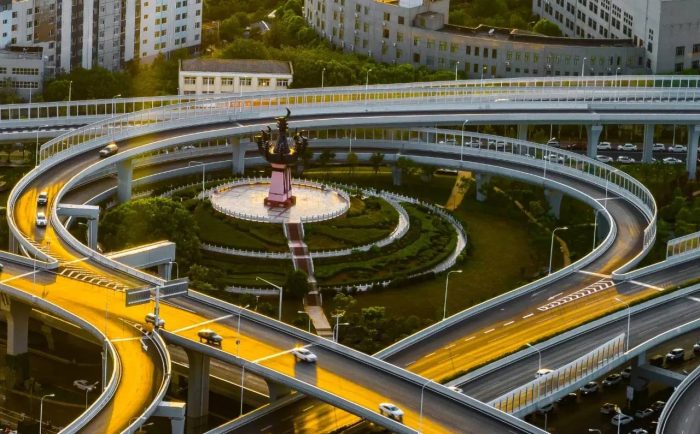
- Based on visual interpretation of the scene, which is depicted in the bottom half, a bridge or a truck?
bridge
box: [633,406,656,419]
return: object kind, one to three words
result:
vehicle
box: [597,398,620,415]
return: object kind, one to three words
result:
car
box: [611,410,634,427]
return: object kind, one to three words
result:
car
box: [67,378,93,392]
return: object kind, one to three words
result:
vehicle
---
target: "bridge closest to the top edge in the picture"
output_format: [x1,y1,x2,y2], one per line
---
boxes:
[0,85,700,176]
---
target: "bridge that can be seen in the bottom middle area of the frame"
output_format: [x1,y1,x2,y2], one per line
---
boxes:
[0,252,554,434]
